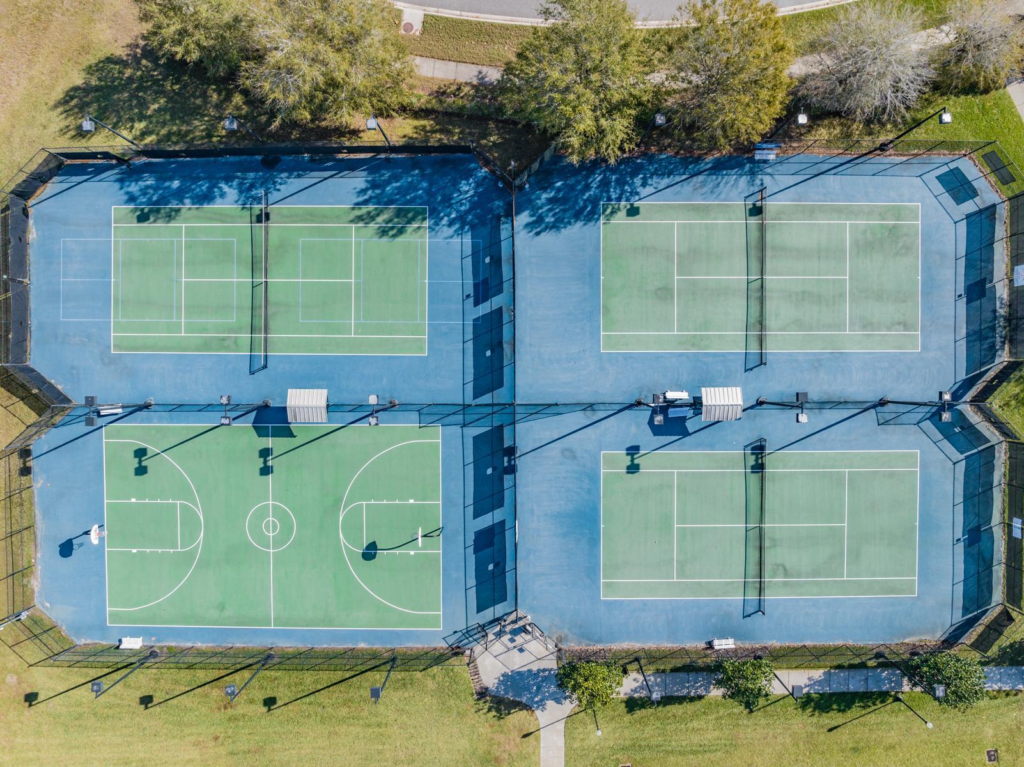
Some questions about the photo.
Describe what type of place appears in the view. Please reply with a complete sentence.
It's a sports ground.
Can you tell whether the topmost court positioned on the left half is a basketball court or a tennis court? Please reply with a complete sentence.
Looking closely, the topmost court positioned on the left half is a tennis court.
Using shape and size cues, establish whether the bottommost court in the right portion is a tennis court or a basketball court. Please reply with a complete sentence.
I'd say the bottommost court in the right portion is a tennis court.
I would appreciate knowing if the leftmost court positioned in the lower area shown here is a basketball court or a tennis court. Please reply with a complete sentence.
It turns out the leftmost court positioned in the lower area is a basketball court.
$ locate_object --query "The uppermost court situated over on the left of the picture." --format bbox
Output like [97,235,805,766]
[31,156,514,404]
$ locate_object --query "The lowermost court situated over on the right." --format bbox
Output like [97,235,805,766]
[514,404,1002,645]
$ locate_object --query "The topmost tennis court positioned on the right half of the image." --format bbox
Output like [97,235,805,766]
[514,155,1004,404]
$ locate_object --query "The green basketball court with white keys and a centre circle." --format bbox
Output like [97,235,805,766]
[34,404,515,646]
